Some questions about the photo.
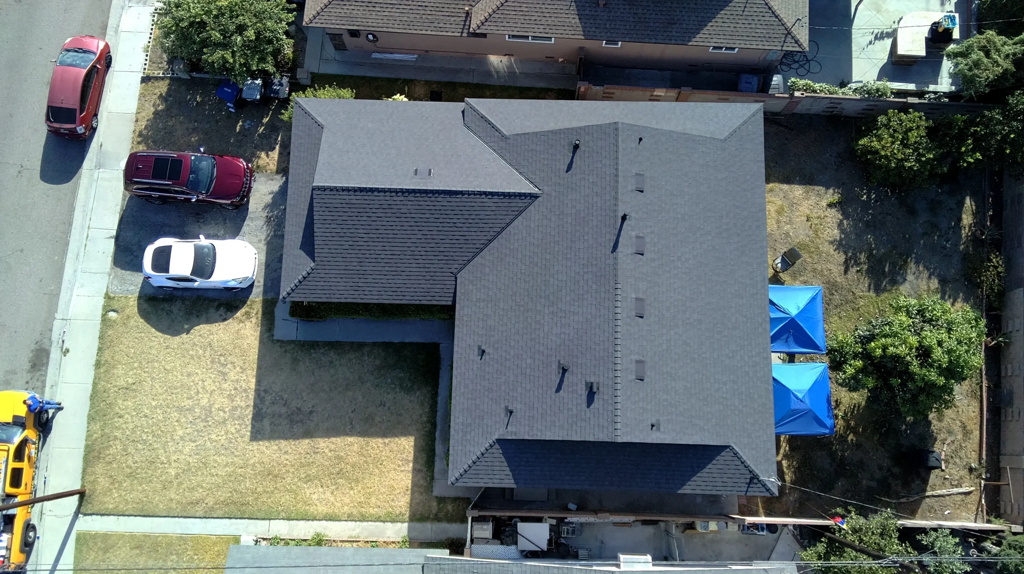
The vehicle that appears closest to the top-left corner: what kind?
car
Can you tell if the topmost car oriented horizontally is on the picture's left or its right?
left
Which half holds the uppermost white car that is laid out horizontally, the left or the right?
left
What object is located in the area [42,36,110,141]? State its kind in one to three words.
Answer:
car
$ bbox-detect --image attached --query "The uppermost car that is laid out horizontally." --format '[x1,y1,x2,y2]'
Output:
[121,147,256,210]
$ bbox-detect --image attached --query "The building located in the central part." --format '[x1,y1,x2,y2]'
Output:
[280,97,780,495]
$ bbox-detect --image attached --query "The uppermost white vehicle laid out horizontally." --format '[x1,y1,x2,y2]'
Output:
[142,234,260,292]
